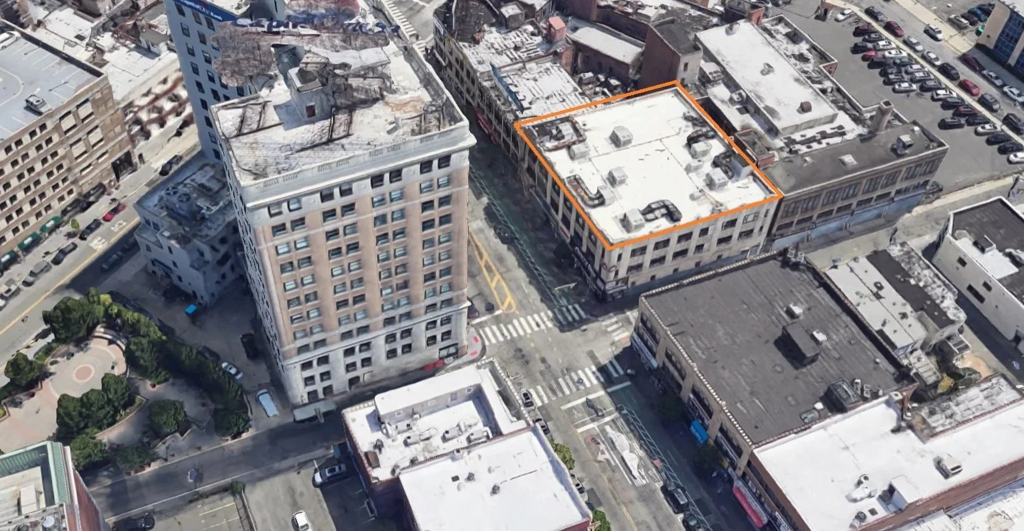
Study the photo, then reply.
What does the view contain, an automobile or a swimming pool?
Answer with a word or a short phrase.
automobile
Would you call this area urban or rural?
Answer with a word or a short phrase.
urban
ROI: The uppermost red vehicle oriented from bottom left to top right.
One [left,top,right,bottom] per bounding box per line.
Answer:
[102,203,125,221]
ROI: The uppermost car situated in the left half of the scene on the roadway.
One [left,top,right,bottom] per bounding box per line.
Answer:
[160,156,181,172]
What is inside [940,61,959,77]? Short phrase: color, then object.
black car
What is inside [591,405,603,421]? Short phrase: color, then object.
gray vehicle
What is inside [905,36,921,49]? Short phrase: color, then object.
gray vehicle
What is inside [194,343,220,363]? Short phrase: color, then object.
black car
